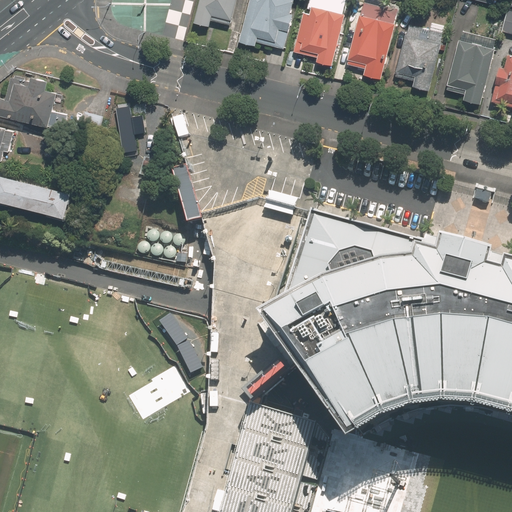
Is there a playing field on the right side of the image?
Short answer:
Yes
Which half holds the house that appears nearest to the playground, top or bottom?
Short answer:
top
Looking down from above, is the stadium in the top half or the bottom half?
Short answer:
bottom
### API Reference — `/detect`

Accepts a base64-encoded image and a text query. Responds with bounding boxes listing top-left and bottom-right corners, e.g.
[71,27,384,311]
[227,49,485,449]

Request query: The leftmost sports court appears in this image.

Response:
[112,0,171,34]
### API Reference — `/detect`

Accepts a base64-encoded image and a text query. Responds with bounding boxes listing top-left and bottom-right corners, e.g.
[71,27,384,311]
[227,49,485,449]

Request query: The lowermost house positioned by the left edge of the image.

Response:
[0,173,66,218]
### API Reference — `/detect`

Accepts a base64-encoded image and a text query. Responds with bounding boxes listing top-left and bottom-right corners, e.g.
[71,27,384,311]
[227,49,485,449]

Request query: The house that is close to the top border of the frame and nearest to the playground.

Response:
[193,0,237,29]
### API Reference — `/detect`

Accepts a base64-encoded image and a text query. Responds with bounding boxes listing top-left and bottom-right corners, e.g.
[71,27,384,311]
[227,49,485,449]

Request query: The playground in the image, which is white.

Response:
[163,0,195,43]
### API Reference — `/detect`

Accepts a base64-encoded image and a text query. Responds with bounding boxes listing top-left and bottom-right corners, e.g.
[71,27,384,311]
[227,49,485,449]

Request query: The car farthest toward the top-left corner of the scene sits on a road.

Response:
[9,0,24,14]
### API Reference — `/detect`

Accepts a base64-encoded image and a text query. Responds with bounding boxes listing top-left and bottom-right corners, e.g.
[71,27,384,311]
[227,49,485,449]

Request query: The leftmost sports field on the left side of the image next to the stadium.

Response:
[0,268,210,512]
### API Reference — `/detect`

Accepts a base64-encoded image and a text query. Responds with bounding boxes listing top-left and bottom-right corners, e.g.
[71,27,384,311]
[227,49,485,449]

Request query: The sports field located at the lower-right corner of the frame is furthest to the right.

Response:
[425,458,512,512]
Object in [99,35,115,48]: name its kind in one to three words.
vehicle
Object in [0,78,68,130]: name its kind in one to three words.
house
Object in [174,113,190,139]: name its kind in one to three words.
vehicle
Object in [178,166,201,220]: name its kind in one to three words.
building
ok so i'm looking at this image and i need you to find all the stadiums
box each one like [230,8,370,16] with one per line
[255,208,512,478]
